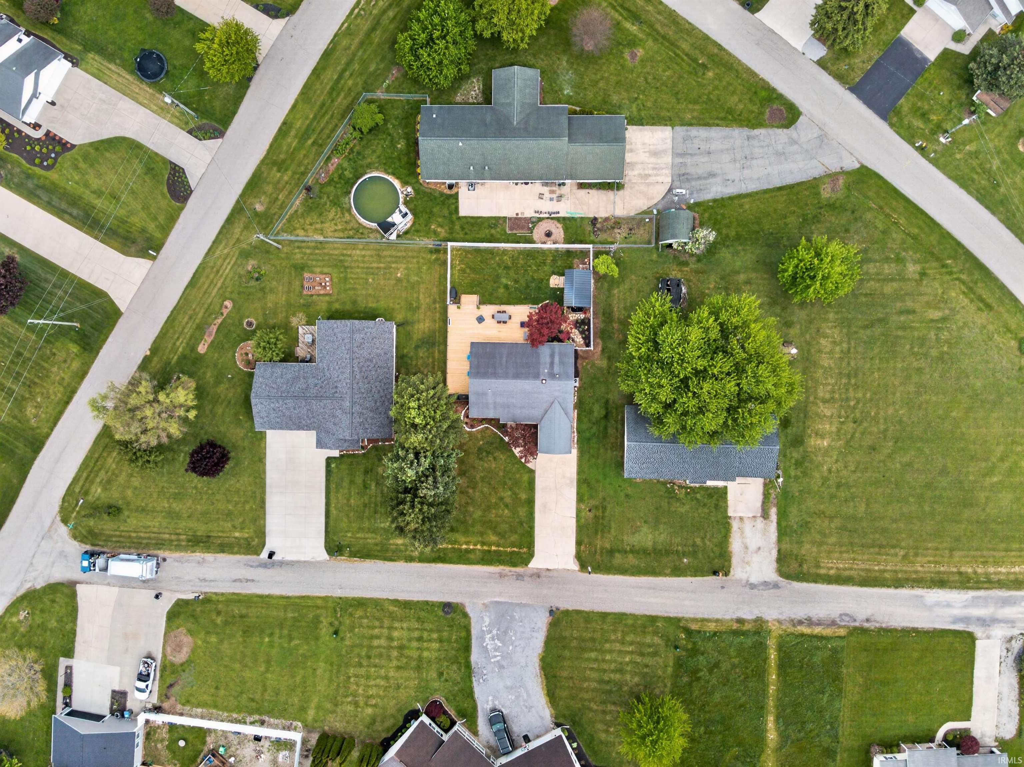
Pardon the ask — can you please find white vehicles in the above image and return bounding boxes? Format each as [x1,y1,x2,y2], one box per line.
[80,548,164,577]
[133,655,158,701]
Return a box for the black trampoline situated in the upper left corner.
[134,48,169,84]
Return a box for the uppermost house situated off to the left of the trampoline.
[0,13,76,124]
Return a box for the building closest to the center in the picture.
[469,342,575,455]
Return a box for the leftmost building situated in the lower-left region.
[51,708,142,767]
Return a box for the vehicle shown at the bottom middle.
[488,708,514,755]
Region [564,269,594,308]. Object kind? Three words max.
building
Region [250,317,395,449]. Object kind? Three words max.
house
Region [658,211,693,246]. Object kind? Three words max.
shed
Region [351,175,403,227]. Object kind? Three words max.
swimming pool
